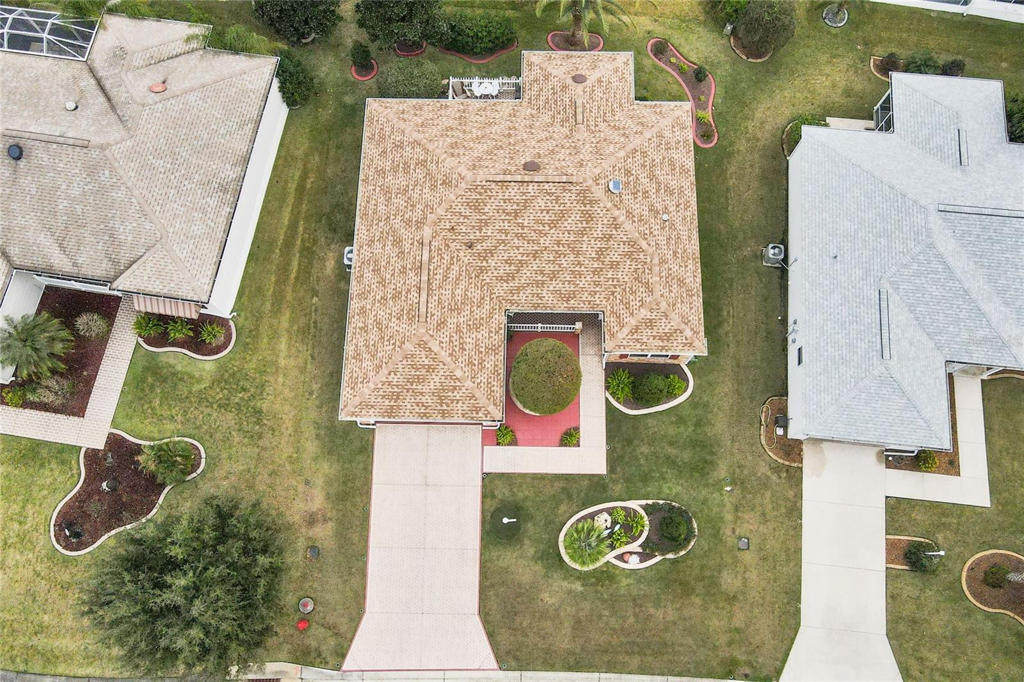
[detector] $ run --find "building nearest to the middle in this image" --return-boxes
[338,50,710,430]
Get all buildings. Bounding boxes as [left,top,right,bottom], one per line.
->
[864,0,1024,26]
[338,50,710,430]
[0,10,288,388]
[785,69,1024,458]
